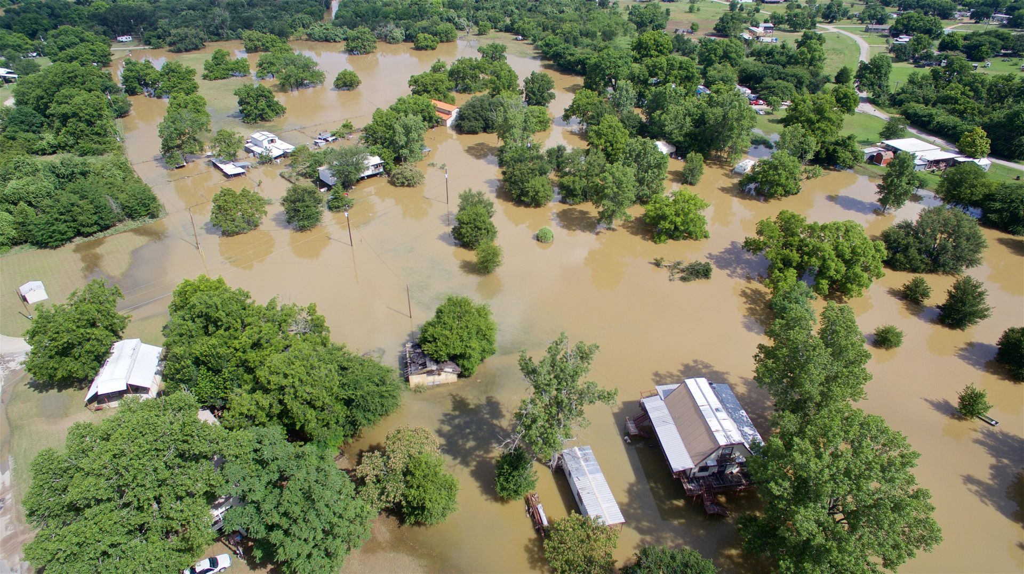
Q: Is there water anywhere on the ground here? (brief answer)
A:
Yes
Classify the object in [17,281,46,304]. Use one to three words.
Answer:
shed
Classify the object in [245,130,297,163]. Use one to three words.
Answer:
barn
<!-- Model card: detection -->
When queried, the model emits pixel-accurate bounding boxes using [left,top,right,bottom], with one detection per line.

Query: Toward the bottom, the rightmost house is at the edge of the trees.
[619,373,784,540]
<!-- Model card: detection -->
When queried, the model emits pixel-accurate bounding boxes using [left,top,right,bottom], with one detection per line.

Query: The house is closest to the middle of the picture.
[402,343,460,388]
